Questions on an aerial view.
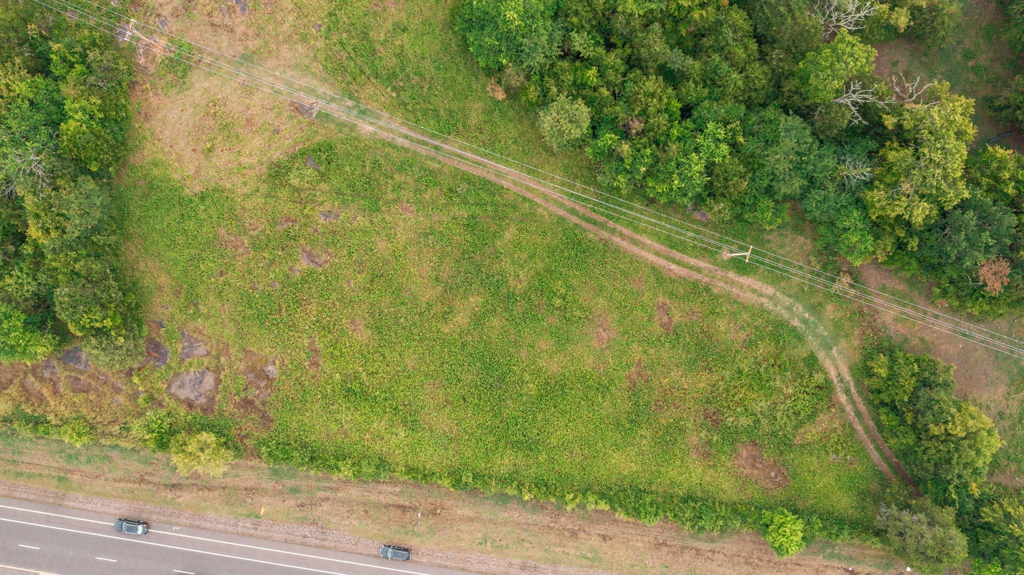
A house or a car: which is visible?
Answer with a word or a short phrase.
car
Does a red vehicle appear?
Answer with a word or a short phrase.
No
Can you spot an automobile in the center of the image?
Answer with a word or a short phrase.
No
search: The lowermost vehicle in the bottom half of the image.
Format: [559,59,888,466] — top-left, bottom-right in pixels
[380,543,411,561]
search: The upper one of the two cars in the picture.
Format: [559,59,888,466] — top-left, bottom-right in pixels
[115,517,149,535]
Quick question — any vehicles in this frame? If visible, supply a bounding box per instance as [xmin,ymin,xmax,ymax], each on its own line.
[115,517,149,535]
[380,543,411,561]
